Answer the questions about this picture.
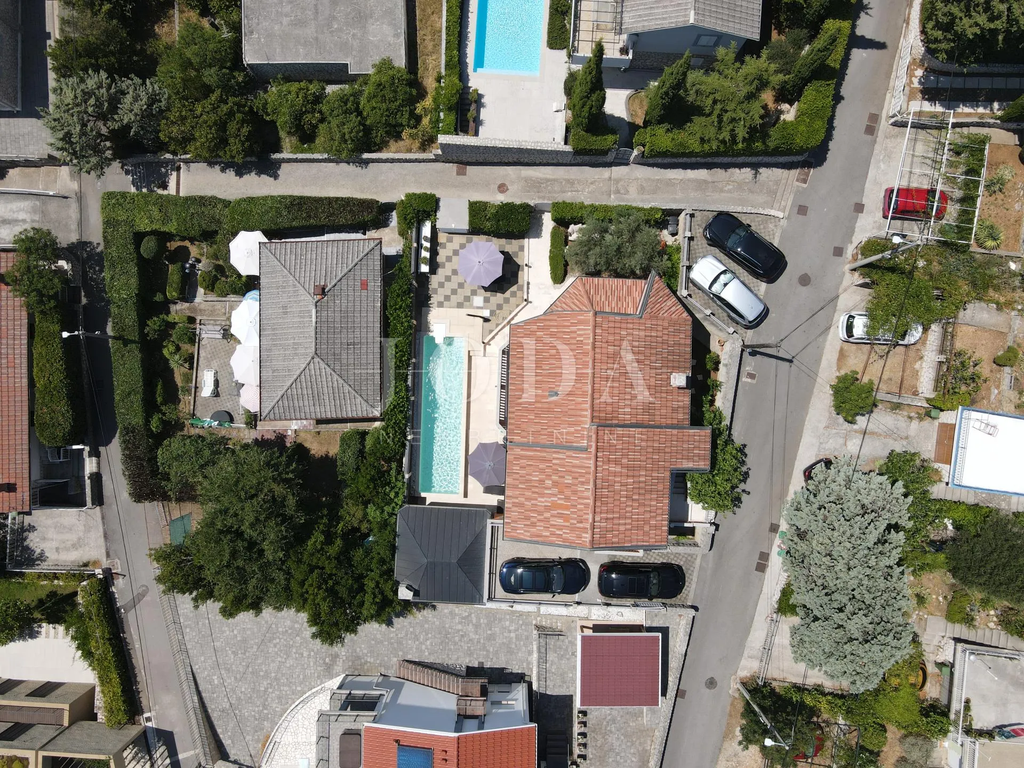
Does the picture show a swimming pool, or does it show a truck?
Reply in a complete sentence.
The one in the frame is a swimming pool.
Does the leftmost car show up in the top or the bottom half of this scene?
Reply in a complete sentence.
It is in the bottom half that the leftmost car appears.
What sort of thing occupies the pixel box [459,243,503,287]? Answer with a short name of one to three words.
umbrella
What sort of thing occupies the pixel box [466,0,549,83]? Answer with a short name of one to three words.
swimming pool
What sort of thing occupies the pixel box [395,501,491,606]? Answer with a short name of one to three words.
building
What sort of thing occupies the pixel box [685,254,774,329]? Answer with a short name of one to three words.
car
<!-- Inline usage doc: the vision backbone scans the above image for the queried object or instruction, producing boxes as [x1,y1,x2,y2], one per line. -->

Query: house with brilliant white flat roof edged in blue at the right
[926,405,1024,498]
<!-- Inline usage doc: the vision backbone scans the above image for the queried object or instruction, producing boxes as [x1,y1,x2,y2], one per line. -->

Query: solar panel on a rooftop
[398,744,433,768]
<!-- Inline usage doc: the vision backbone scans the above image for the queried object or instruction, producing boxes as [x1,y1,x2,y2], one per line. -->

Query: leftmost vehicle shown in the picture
[500,556,590,600]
